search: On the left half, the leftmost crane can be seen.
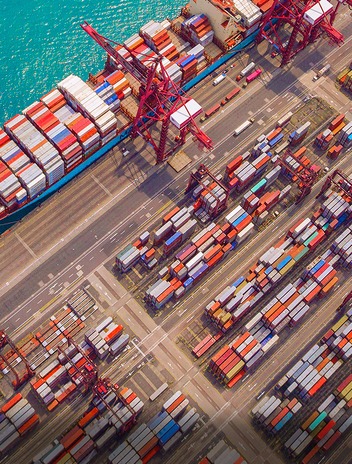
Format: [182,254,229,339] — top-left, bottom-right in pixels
[0,331,35,383]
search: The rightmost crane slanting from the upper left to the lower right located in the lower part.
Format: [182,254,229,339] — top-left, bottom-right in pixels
[92,377,136,429]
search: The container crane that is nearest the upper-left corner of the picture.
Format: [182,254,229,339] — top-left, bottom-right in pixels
[79,24,218,166]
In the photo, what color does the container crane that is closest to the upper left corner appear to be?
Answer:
red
